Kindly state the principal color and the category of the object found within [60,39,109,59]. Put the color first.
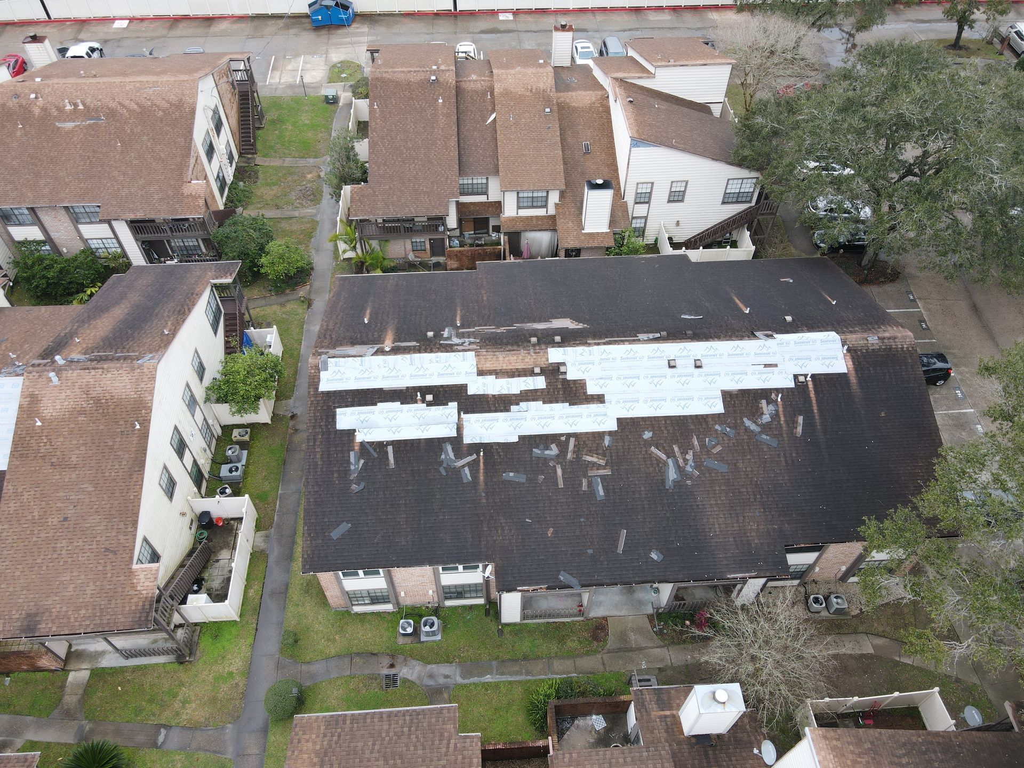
white car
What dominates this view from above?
buildings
